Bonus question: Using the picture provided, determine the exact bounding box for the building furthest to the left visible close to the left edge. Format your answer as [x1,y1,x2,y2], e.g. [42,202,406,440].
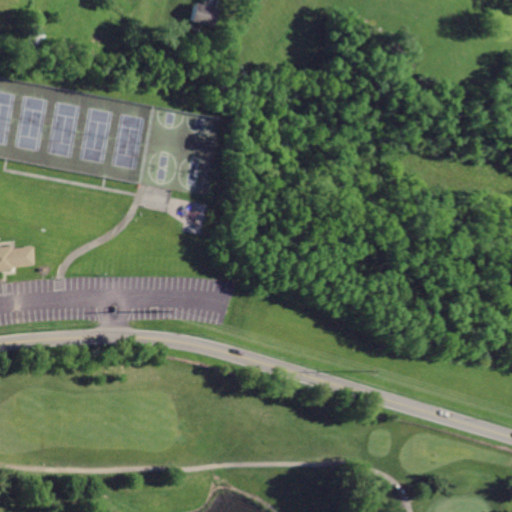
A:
[0,238,35,274]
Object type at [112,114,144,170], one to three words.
tennis court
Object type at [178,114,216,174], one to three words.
basketball court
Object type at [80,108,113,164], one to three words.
tennis court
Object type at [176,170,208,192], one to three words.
basketball court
